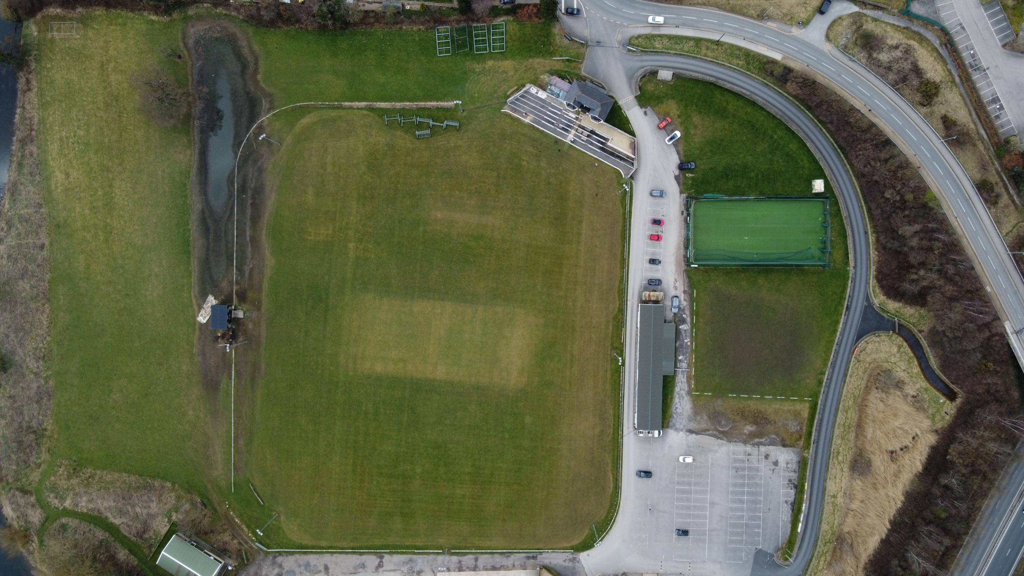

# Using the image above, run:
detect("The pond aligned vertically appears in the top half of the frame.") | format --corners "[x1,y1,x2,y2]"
[205,56,238,216]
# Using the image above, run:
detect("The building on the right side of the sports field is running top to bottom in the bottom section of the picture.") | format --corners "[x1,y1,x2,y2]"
[634,304,675,430]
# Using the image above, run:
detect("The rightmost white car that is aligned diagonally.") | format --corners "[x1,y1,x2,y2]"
[665,131,681,145]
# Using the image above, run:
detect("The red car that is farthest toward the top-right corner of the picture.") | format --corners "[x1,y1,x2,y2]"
[656,117,671,131]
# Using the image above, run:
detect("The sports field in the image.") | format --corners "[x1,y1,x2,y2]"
[252,110,622,548]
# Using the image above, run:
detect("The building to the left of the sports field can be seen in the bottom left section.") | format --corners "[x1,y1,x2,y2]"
[156,530,225,576]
